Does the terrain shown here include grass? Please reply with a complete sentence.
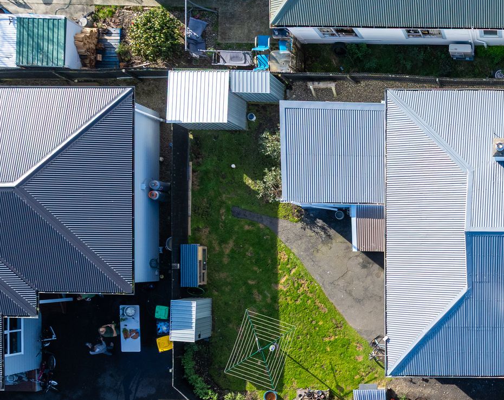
Yes, grass shows up in the scene.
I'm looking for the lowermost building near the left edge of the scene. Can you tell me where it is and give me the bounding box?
[0,84,162,391]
